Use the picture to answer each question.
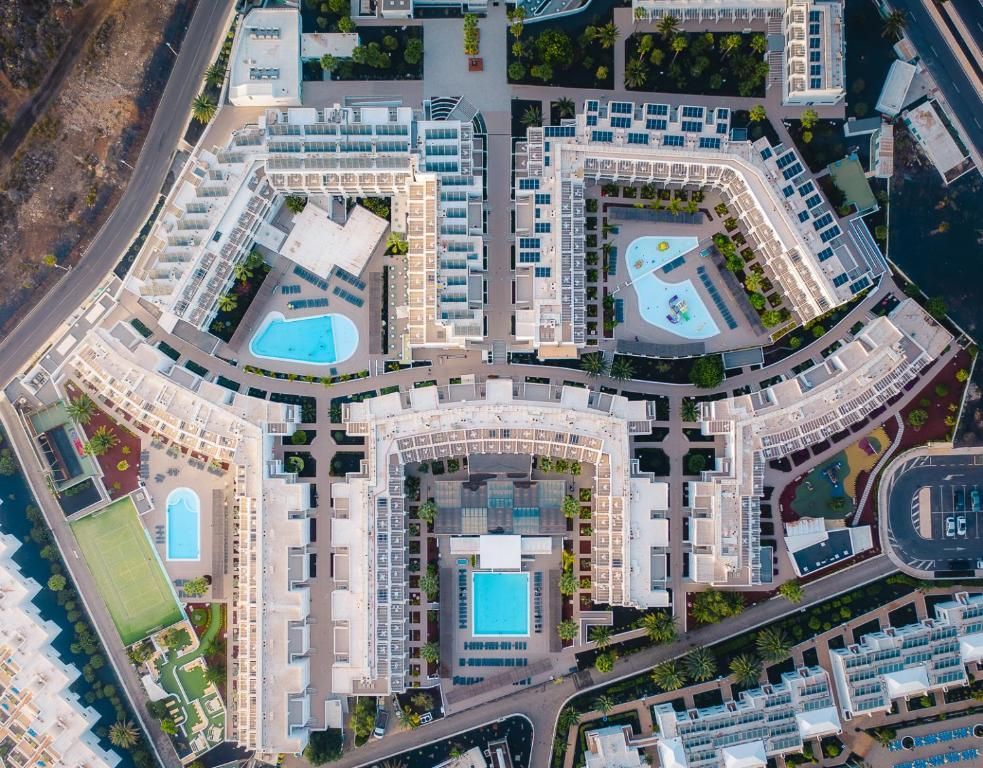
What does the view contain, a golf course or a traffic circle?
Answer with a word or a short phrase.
golf course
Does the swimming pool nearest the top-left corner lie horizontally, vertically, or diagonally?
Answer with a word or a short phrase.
horizontally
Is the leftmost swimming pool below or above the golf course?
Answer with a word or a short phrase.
above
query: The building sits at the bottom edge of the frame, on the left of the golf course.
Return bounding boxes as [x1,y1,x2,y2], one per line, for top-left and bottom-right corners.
[0,551,122,768]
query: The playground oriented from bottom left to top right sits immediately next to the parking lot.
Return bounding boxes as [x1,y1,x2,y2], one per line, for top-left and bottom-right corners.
[794,430,888,517]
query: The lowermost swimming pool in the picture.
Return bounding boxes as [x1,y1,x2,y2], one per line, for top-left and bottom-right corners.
[472,572,530,636]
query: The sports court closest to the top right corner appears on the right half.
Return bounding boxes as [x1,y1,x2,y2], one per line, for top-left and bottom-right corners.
[827,152,881,207]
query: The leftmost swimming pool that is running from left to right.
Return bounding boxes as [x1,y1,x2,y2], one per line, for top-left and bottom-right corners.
[250,313,358,365]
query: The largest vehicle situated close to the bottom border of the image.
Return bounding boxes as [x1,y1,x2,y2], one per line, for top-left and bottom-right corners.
[374,711,387,739]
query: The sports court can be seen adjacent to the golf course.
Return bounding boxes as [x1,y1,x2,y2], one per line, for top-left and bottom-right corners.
[62,496,185,652]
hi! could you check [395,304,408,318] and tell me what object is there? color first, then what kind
white umbrella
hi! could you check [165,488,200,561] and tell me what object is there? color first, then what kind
blue swimming pool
